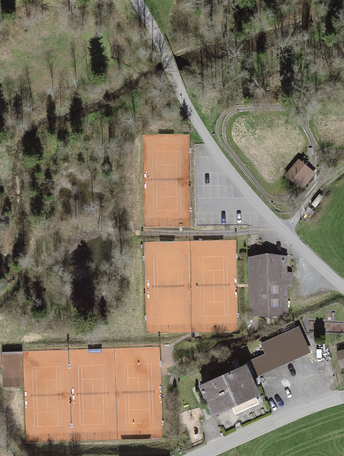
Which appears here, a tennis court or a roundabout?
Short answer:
tennis court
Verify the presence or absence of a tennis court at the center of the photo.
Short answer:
Yes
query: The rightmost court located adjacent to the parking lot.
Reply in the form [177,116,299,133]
[190,240,238,332]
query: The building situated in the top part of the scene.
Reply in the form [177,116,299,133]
[286,159,316,188]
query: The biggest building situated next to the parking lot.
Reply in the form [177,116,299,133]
[248,254,292,317]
